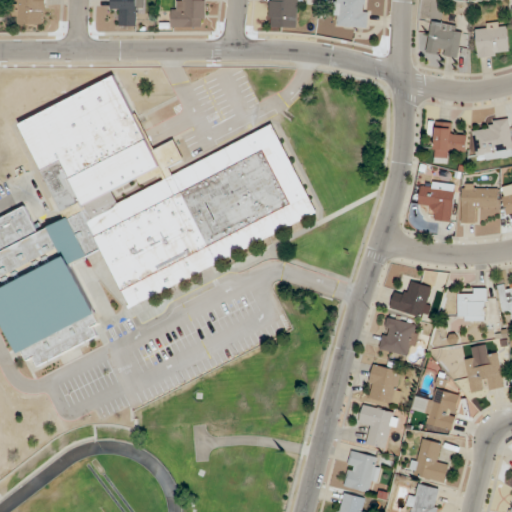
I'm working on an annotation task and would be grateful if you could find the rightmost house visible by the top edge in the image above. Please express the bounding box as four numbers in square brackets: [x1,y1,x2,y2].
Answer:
[475,22,509,58]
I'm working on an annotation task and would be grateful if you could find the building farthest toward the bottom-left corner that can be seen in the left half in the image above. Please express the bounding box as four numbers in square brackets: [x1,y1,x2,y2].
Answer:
[0,206,99,367]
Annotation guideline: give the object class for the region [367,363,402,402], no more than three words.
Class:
house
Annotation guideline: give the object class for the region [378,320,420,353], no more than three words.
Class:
house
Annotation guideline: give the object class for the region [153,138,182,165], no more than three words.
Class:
building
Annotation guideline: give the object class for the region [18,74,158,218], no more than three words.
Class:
building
